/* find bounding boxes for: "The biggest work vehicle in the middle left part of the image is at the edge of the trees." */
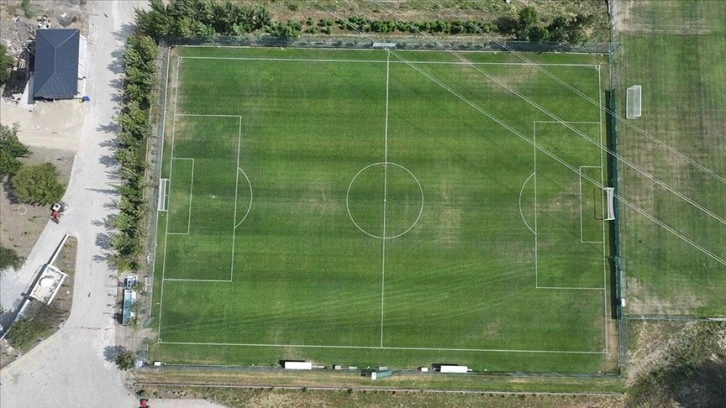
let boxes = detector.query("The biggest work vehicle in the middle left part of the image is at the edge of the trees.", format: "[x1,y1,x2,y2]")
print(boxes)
[50,199,69,224]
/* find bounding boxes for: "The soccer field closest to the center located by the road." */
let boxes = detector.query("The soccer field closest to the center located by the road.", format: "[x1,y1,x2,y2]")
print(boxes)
[147,48,619,375]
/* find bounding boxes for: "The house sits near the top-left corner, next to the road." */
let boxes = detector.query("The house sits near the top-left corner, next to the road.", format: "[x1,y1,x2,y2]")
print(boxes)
[33,29,85,101]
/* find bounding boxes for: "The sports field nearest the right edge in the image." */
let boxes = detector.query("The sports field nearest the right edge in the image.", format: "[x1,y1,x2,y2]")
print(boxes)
[617,0,726,319]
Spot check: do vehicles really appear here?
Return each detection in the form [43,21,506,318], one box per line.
[140,399,151,408]
[50,199,69,224]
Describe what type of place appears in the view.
sports ground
